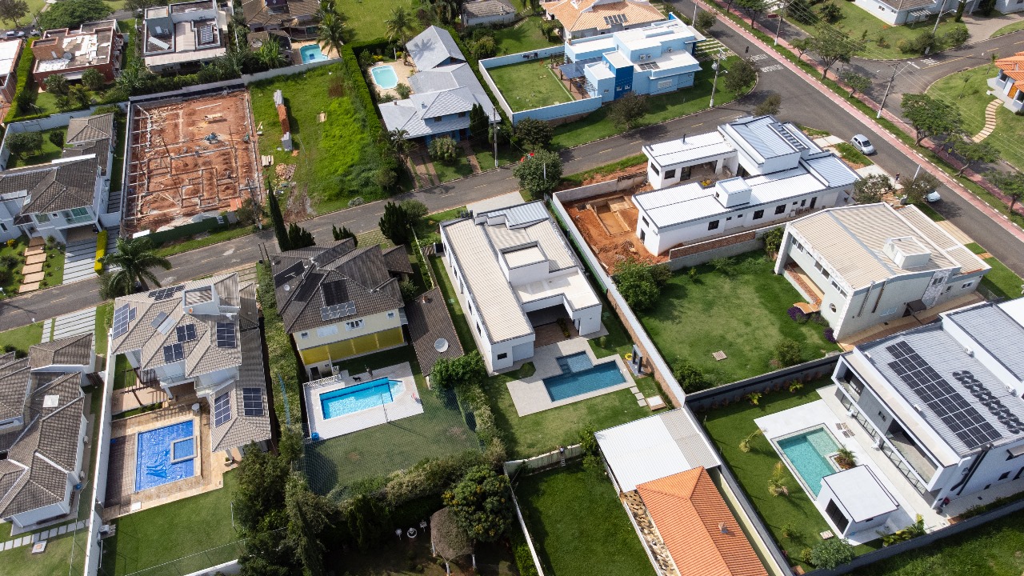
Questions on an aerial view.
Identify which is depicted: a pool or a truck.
pool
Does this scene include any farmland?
No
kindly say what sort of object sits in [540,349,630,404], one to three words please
swimming pool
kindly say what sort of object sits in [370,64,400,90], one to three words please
swimming pool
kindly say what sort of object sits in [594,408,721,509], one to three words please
shed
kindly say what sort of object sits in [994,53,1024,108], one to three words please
house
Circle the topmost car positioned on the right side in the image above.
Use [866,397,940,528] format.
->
[855,135,876,151]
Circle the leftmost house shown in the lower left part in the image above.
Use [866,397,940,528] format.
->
[0,332,104,531]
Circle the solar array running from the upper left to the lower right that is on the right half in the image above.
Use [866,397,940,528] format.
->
[885,341,1001,447]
